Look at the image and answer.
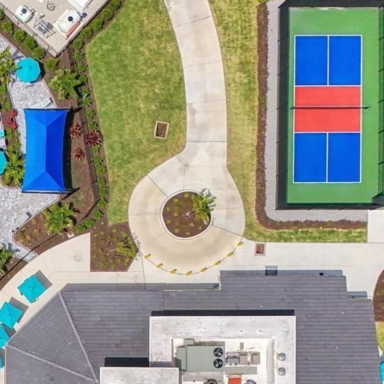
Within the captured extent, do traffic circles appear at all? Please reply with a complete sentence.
Yes, the picture does show a traffic circle.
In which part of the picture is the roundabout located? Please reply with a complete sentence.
The roundabout sits in the center section of the image.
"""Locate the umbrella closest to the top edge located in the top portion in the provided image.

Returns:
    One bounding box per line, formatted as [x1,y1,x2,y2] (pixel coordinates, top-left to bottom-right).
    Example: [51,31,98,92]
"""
[15,59,40,84]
